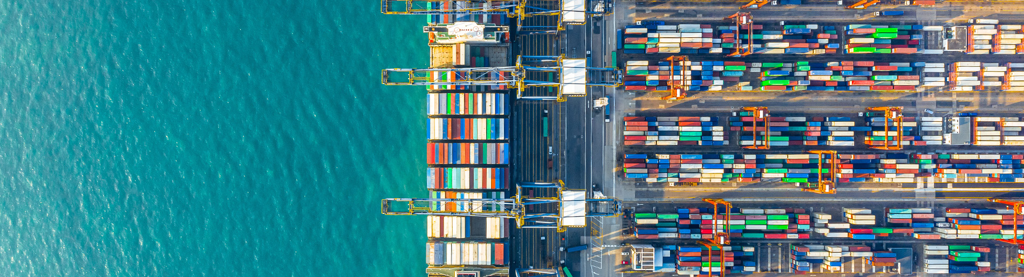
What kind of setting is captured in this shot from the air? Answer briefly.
port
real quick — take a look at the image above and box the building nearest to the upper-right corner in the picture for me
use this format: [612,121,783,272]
[936,26,968,52]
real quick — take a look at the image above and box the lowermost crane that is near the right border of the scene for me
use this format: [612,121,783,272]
[983,201,1024,245]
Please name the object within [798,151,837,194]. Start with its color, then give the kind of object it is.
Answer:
orange crane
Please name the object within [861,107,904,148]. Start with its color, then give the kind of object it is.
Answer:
orange crane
